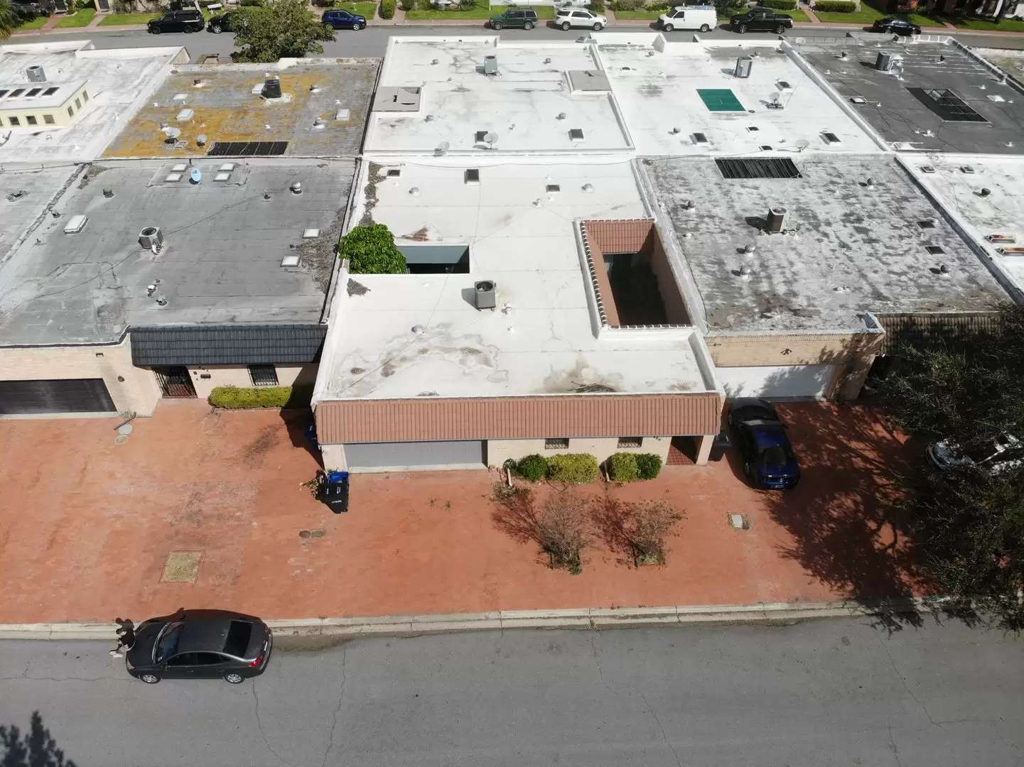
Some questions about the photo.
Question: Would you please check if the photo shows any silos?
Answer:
No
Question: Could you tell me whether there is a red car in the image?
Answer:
No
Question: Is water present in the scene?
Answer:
No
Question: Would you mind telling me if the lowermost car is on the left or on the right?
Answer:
left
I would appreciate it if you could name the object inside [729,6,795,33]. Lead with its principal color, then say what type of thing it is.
black truck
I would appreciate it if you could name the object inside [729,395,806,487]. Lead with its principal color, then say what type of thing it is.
black car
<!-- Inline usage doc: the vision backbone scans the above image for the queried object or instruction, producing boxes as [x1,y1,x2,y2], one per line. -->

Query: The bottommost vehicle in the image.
[117,610,272,683]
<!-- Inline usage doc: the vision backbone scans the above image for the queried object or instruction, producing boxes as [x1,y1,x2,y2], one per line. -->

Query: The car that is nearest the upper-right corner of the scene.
[869,13,923,35]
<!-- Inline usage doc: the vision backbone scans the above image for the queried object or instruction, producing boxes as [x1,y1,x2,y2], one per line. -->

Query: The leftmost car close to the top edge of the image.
[146,5,208,34]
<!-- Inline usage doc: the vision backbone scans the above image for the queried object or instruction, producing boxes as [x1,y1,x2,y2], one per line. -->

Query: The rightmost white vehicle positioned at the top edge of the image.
[656,0,719,31]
